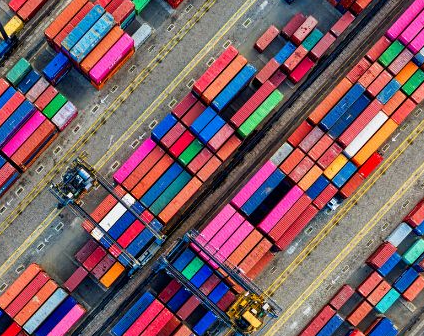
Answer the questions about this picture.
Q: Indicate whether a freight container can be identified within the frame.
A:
Yes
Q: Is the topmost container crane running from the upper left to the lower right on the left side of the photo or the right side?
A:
left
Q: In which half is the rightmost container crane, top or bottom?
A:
bottom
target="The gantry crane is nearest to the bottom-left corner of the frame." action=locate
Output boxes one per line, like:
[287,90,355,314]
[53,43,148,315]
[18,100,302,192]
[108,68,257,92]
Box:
[51,155,170,275]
